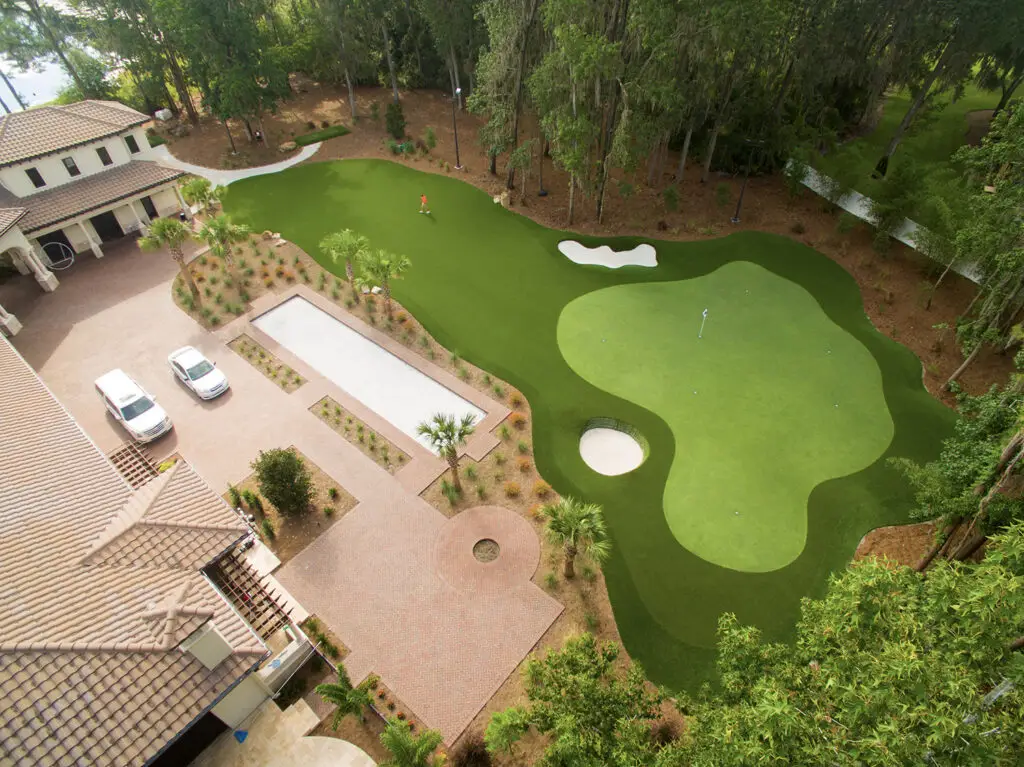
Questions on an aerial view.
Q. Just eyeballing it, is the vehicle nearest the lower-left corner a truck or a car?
car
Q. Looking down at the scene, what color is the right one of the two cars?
white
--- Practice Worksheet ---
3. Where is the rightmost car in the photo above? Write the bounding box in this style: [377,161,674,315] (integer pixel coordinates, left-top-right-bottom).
[167,344,229,401]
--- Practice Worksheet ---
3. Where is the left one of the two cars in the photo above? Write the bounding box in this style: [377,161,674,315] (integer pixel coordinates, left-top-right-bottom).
[95,370,173,444]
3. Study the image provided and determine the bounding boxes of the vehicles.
[167,344,229,401]
[95,370,173,444]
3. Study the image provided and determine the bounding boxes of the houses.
[0,333,279,767]
[0,97,197,283]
